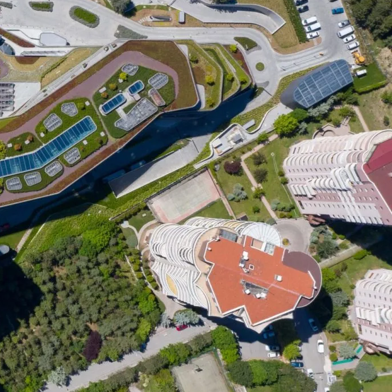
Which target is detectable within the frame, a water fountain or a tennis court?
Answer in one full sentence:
There is a tennis court in the scene.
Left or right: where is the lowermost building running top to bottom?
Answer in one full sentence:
It is on the right.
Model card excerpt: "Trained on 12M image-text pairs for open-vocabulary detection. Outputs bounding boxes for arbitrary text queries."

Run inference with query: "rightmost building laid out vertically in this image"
[349,262,392,356]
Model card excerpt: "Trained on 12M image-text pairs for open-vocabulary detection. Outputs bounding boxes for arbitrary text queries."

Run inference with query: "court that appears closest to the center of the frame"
[147,172,220,224]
